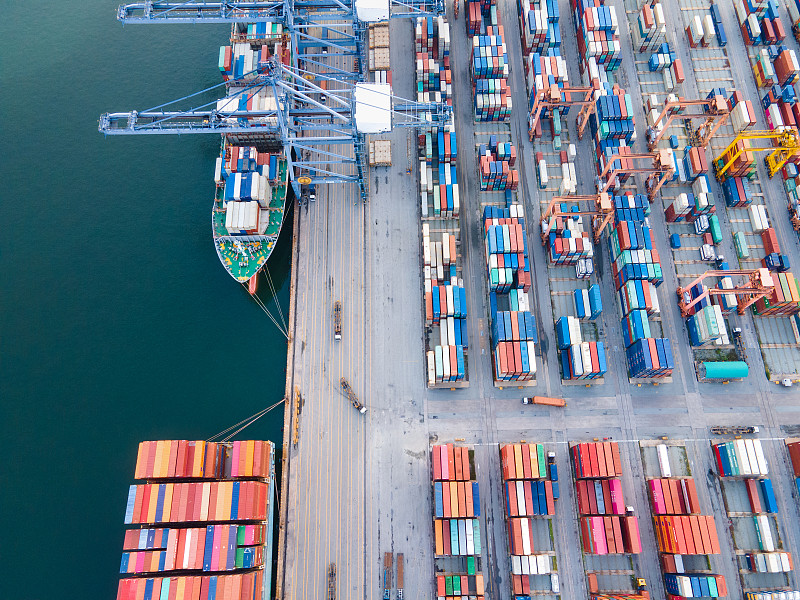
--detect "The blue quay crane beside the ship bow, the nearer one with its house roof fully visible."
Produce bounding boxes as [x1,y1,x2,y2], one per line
[96,62,442,205]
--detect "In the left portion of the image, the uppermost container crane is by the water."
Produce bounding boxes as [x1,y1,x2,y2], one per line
[116,0,437,102]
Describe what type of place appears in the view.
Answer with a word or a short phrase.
port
